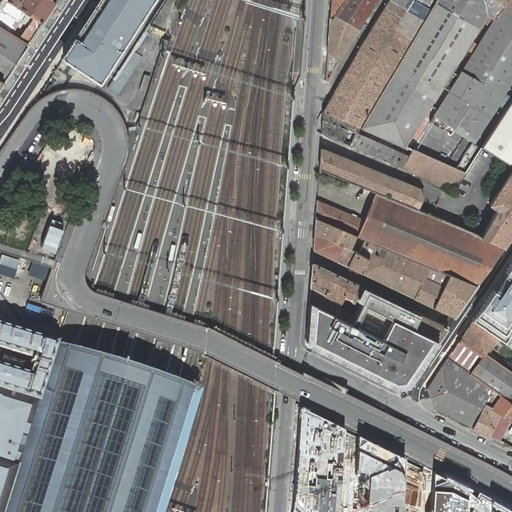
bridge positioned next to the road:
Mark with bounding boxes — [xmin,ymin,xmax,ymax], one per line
[70,288,512,508]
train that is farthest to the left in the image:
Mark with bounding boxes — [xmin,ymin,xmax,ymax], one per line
[138,238,159,304]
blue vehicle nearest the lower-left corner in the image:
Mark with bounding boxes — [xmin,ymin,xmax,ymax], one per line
[24,302,52,316]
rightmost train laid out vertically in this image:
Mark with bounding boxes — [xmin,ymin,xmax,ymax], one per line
[164,234,188,314]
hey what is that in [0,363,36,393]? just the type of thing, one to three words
building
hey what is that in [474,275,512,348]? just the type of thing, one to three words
house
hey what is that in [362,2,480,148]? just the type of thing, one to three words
warehouse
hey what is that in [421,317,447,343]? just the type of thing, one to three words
shed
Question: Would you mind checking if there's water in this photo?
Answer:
No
